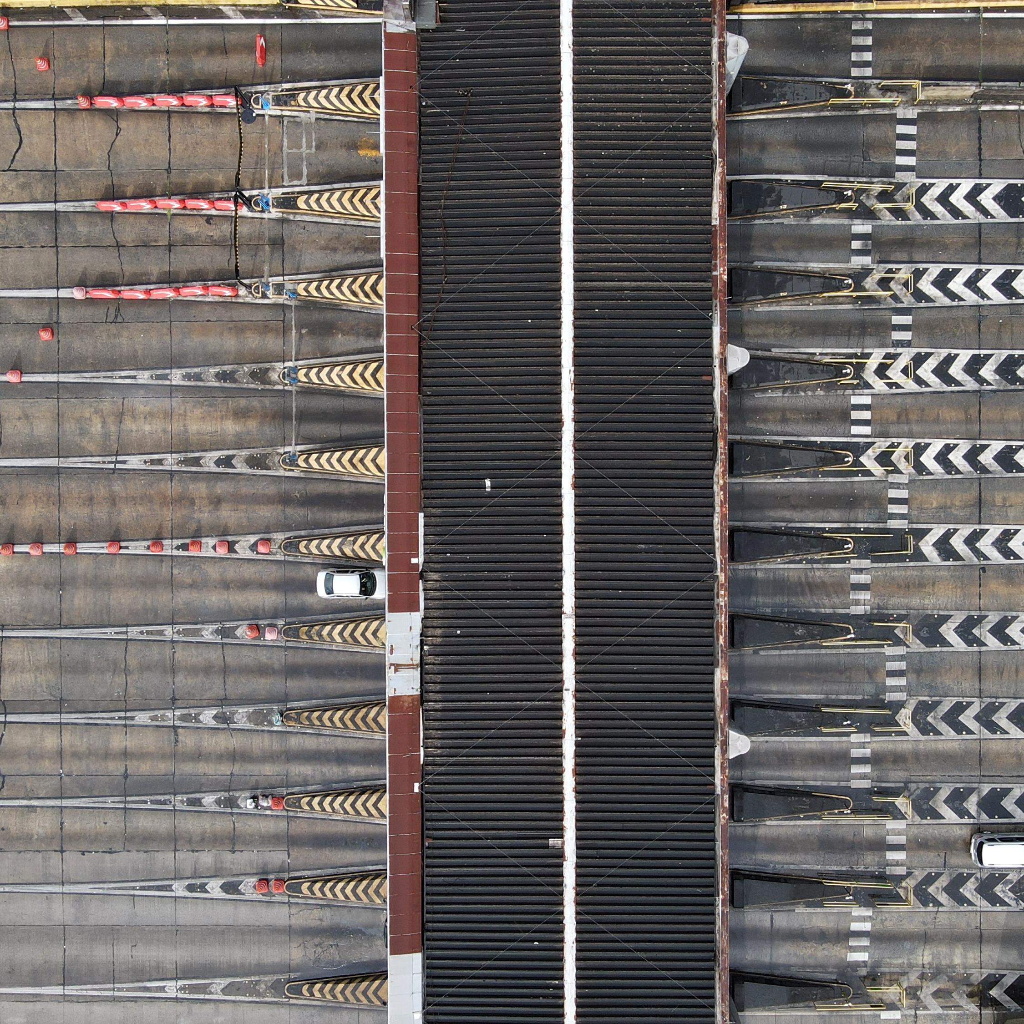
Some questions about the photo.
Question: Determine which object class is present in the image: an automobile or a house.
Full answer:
The image shows an automobile.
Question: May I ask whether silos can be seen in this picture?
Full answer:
No, no silo is visible in the scene.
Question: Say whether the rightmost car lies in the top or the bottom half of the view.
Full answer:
The rightmost car is in the bottom half of the image.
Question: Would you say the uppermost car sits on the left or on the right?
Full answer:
The uppermost car sits on the left side.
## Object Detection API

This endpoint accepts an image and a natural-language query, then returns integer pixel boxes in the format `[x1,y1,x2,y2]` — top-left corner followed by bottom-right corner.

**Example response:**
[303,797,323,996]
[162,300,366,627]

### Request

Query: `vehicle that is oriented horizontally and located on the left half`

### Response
[317,566,385,600]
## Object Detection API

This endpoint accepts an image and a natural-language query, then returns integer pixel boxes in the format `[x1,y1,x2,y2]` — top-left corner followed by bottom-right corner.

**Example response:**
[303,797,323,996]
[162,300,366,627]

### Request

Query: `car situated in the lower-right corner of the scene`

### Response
[967,830,1024,868]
